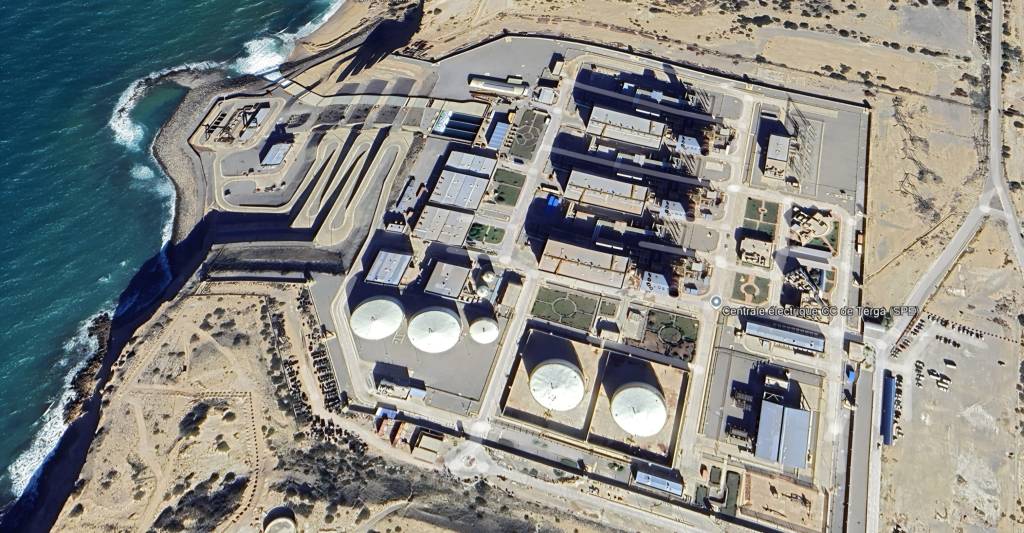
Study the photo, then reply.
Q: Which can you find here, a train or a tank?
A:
tank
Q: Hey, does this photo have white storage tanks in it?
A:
Yes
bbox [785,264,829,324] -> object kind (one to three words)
building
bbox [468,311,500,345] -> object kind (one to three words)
storage tank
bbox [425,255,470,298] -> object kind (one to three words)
building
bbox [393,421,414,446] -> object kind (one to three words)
shed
